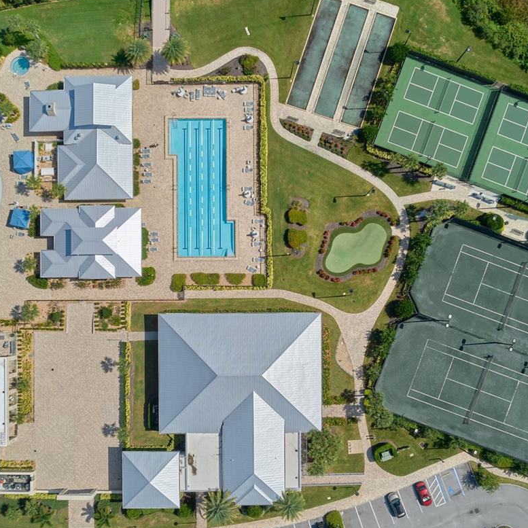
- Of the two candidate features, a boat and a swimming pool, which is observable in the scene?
swimming pool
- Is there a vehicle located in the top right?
No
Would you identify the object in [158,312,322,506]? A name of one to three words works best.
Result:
building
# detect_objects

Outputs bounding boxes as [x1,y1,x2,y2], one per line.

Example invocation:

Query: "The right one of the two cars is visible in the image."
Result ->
[414,480,432,507]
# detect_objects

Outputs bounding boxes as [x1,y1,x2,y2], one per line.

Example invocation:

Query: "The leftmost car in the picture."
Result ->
[387,491,405,518]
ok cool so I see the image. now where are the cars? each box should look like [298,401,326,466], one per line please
[414,480,432,507]
[387,491,405,518]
